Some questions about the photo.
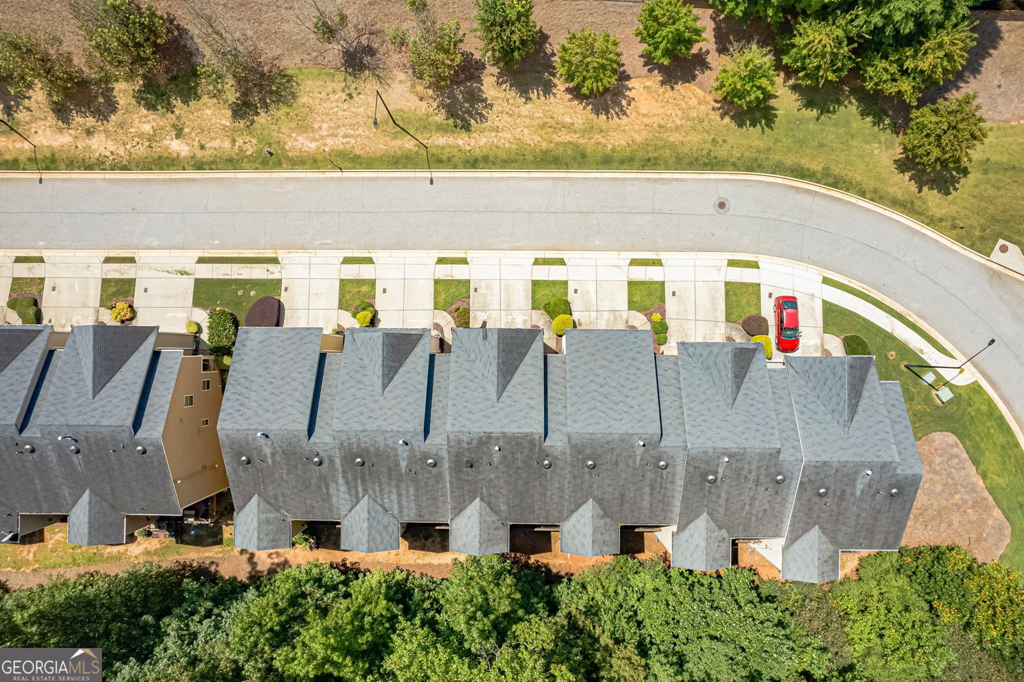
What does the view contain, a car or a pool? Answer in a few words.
car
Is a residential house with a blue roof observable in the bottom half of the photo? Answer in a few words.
No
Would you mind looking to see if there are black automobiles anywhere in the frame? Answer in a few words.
No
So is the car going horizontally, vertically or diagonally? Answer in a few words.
vertically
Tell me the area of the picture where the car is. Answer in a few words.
right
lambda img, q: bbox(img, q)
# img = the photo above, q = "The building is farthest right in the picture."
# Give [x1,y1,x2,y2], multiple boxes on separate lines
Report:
[747,355,924,583]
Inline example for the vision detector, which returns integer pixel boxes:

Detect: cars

[772,296,801,353]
